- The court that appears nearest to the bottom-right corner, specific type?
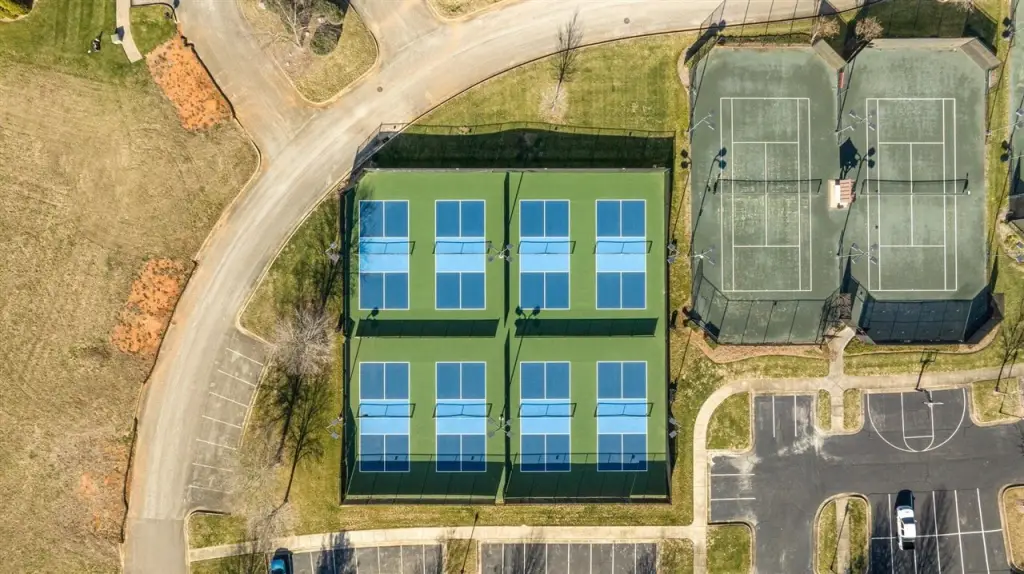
basketball court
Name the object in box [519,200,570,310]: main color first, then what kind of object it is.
blue sports court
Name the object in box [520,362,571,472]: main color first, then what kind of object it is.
blue sports court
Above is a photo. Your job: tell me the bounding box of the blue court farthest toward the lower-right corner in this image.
[597,362,648,472]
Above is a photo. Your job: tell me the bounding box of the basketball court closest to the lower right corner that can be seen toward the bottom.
[868,389,965,452]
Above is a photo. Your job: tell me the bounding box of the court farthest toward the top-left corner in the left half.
[359,200,410,310]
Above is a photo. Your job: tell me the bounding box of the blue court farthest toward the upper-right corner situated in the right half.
[596,200,646,310]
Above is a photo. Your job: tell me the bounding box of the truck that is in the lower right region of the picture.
[894,503,917,550]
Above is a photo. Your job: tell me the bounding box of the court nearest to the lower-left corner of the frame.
[360,362,410,472]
